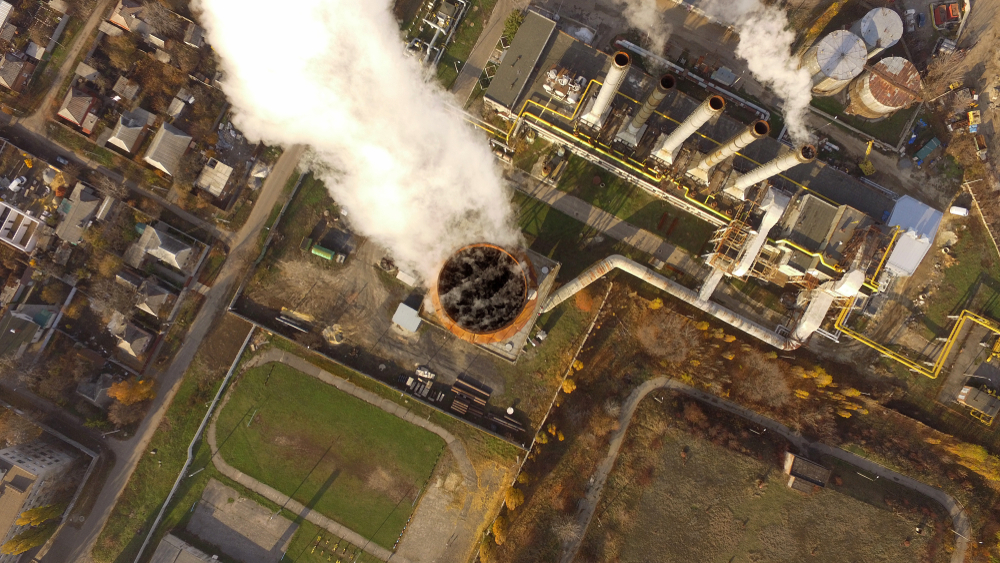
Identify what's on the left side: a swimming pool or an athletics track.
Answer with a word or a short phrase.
athletics track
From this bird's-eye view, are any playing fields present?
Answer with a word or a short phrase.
Yes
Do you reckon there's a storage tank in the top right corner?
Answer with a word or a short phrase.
Yes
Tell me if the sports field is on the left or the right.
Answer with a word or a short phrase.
left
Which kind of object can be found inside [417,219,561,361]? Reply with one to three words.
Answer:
cooling tower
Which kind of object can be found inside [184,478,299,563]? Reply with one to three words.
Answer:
sports court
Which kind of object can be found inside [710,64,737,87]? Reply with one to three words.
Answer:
shed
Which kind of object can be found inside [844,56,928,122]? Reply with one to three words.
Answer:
storage tank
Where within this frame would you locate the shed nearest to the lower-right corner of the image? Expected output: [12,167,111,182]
[955,386,1000,425]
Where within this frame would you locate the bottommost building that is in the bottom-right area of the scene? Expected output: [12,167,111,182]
[784,451,831,491]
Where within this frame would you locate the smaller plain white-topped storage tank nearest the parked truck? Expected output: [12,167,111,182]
[847,7,904,62]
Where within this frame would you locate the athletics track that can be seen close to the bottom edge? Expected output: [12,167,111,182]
[210,351,478,560]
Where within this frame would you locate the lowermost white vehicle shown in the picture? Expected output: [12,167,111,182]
[7,176,24,190]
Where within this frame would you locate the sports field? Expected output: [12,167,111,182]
[219,360,443,545]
